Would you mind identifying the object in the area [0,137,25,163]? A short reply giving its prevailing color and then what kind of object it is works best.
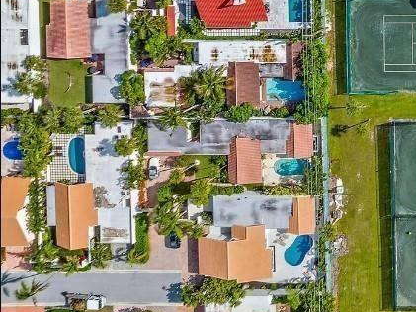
blue swimming pool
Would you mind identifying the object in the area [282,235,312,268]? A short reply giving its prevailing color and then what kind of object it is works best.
blue swimming pool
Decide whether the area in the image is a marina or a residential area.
residential area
